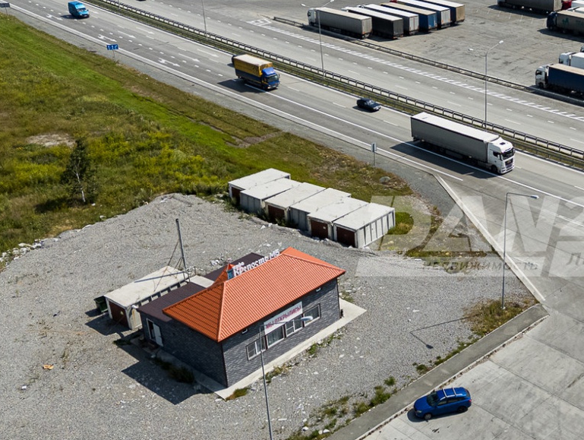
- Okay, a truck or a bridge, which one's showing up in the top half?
truck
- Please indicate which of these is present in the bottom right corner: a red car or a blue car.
blue car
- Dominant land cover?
paved ground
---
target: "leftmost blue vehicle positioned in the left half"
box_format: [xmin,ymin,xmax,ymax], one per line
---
[65,0,88,18]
